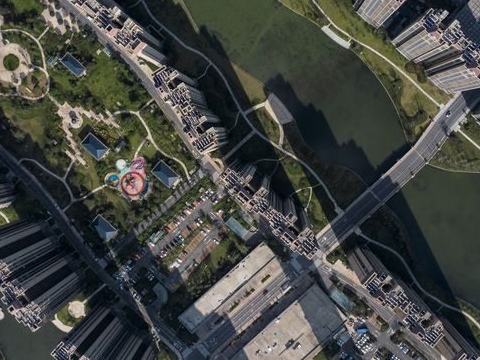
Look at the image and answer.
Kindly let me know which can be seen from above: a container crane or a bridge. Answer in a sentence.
The image shows a bridge.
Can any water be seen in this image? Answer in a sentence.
Yes, there is water in the image.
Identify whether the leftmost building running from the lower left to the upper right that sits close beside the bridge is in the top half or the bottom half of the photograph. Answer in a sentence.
It is in the bottom half that the leftmost building running from the lower left to the upper right that sits close beside the bridge appears.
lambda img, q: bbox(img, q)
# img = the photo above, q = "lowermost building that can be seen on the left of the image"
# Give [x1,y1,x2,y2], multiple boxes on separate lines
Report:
[51,298,163,360]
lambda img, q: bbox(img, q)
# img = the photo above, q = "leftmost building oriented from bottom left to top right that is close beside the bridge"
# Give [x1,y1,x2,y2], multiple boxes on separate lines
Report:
[177,240,278,333]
